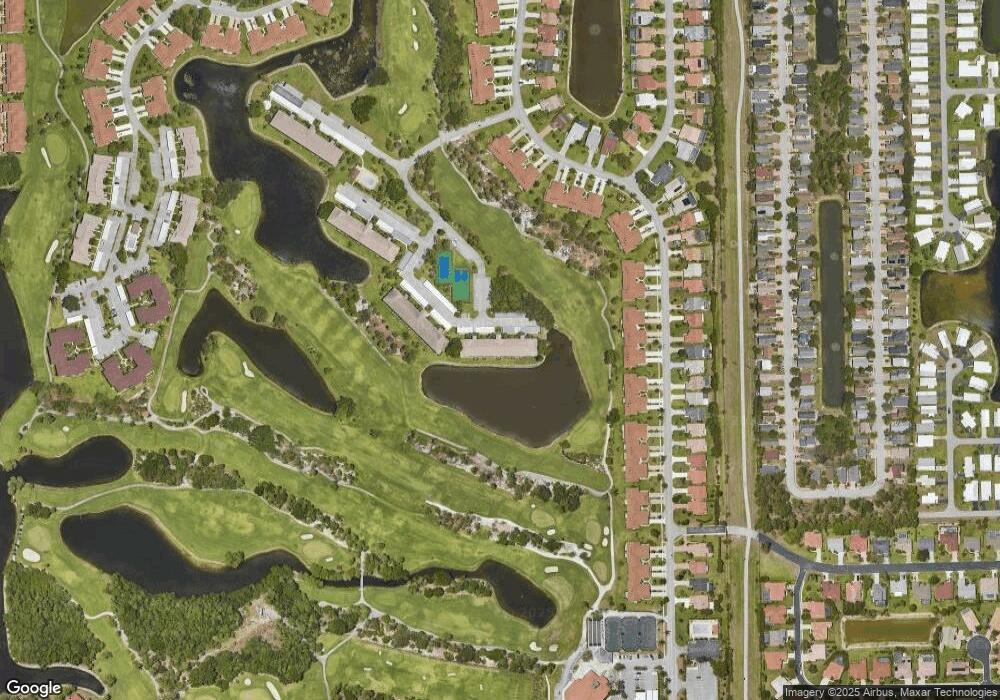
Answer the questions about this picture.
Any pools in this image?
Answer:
Yes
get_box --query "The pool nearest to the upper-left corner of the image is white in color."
[124,222,143,252]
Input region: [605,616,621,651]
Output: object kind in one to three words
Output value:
tennis court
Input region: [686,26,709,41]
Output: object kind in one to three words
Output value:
house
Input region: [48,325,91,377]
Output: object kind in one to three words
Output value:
building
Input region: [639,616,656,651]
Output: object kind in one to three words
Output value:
tennis court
